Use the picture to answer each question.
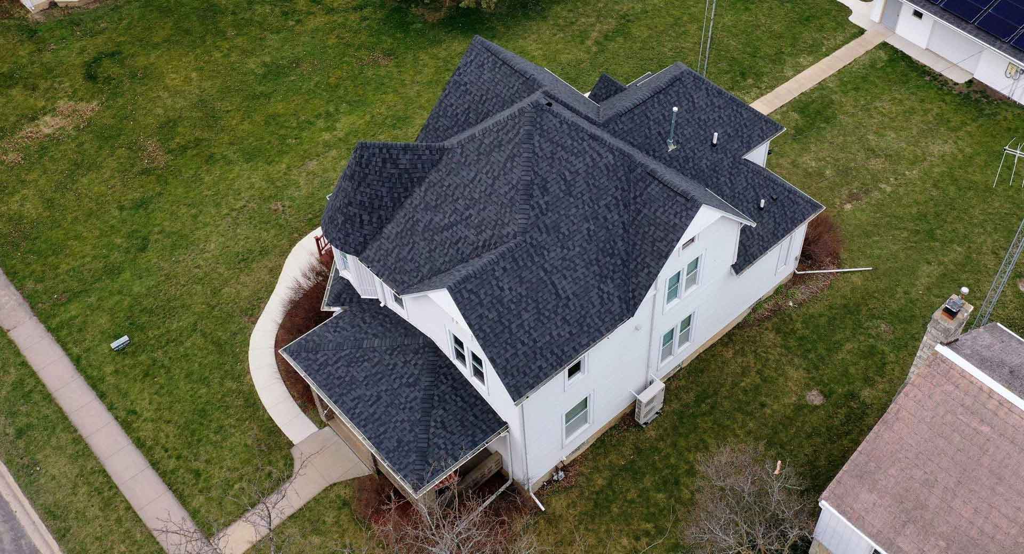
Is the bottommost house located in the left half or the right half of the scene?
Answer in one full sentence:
The bottommost house sits on the right side.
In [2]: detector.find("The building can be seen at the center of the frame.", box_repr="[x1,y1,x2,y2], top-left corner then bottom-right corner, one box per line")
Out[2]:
[276,34,872,541]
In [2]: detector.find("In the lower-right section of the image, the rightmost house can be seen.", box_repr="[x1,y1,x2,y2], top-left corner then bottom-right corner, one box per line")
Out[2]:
[813,290,1024,554]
